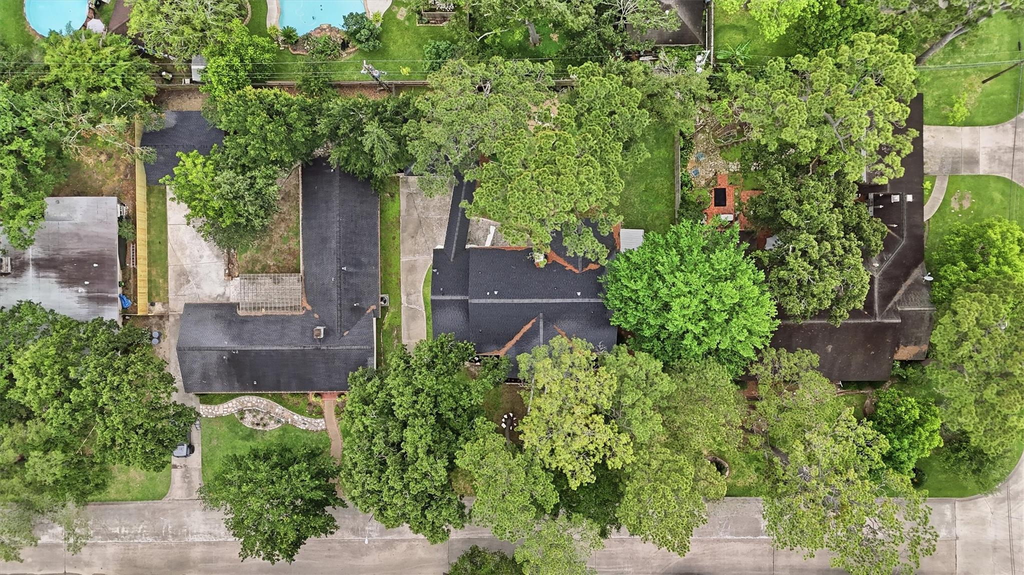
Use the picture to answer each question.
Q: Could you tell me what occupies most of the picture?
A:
trees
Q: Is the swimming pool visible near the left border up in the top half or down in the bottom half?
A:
top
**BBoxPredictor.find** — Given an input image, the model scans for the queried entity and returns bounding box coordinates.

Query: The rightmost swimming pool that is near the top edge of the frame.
[274,0,371,37]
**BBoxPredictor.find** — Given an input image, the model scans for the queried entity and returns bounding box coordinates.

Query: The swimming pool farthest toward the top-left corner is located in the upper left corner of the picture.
[24,0,88,35]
